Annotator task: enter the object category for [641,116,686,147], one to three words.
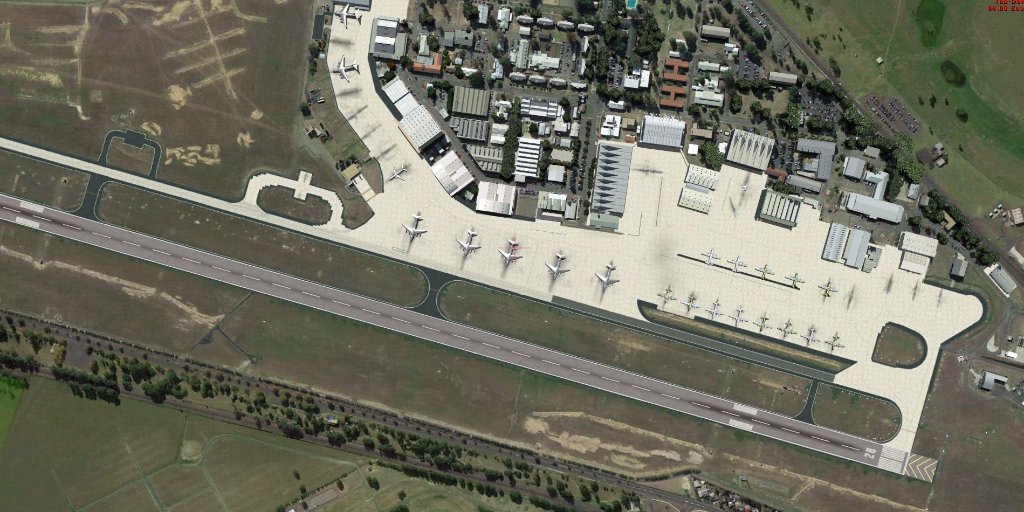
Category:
hangar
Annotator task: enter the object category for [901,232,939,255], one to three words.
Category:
building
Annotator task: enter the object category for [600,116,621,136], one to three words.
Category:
building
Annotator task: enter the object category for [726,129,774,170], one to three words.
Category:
hangar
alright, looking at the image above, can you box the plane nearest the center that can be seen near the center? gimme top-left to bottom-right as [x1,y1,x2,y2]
[499,241,524,269]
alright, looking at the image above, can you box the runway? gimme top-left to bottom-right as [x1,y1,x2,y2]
[0,192,913,476]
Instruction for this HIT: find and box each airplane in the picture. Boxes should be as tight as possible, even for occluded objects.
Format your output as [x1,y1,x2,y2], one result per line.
[756,265,775,280]
[656,289,675,304]
[753,314,772,329]
[546,254,571,282]
[825,335,844,350]
[801,330,821,344]
[730,308,749,323]
[458,231,483,259]
[706,301,726,316]
[701,250,721,265]
[728,257,747,272]
[681,296,700,311]
[403,214,427,242]
[596,265,621,293]
[786,274,805,288]
[819,282,839,297]
[332,56,360,81]
[389,166,406,180]
[499,241,524,269]
[776,322,796,337]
